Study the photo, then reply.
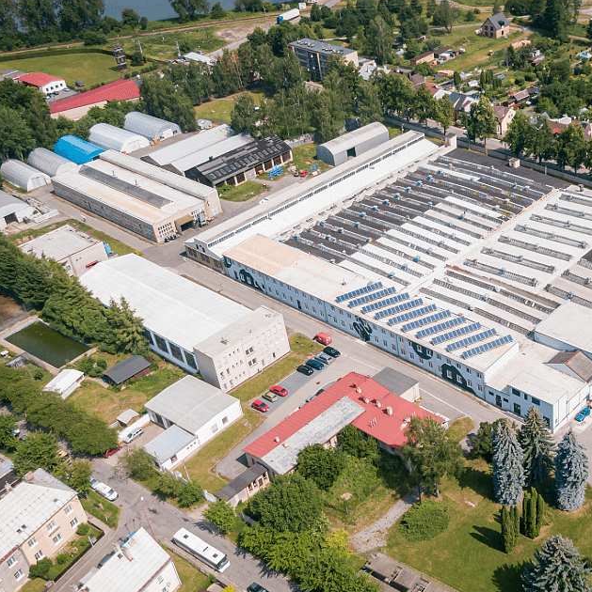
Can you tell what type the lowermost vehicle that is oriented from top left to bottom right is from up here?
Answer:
bus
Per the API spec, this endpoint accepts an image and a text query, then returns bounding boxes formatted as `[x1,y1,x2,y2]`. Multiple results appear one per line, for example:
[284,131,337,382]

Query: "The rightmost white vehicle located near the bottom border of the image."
[168,524,234,577]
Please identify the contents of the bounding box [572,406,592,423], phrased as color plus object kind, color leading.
blue car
